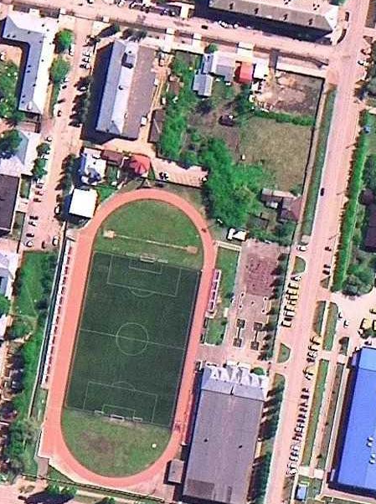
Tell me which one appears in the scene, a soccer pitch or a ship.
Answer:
soccer pitch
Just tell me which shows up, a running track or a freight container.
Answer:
running track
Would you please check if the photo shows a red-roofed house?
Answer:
Yes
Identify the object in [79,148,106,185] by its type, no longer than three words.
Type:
house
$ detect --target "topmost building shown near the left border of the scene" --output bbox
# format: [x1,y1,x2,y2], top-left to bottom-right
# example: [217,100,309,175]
[1,14,62,118]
